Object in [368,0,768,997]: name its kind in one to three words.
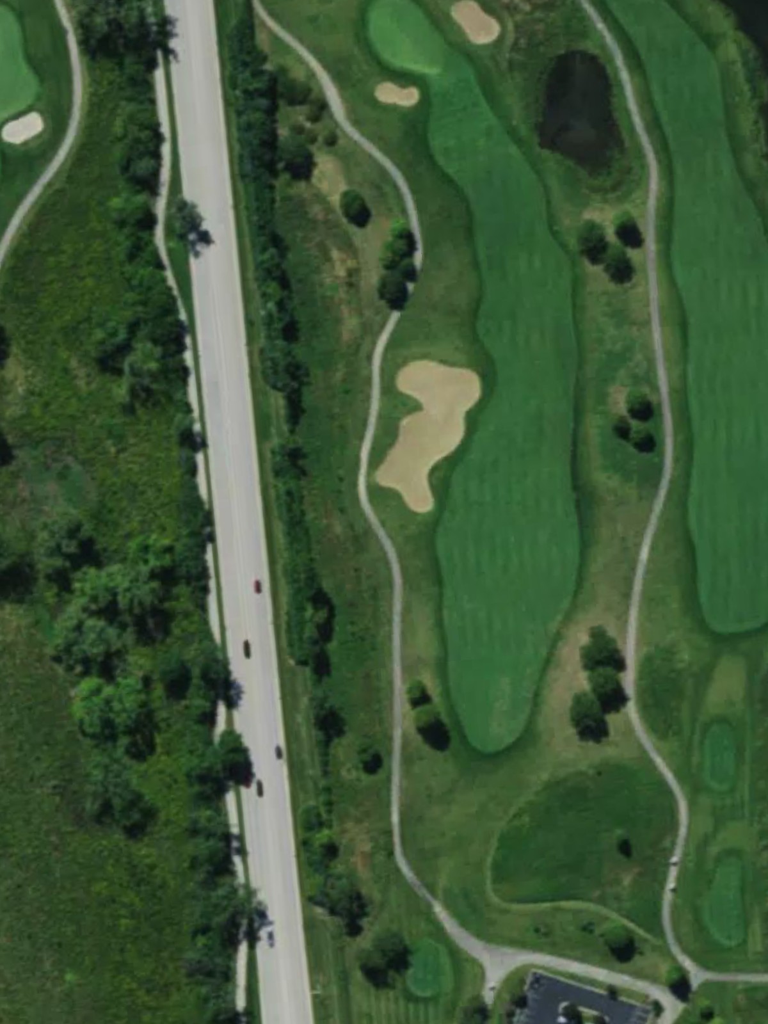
golf course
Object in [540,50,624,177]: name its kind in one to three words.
pond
